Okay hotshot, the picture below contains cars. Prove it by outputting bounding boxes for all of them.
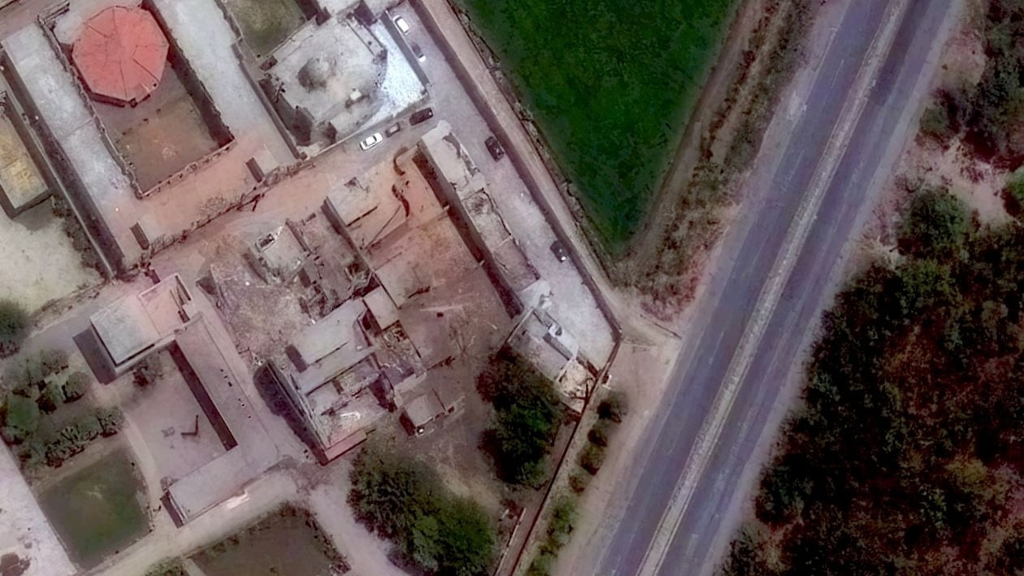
[410,40,427,62]
[359,133,383,150]
[392,13,411,36]
[384,123,402,136]
[409,107,435,125]
[485,136,504,160]
[550,240,568,262]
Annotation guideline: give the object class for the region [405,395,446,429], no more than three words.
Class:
shed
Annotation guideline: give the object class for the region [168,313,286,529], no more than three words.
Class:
building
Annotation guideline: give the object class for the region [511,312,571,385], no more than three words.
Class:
building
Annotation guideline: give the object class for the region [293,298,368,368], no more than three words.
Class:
house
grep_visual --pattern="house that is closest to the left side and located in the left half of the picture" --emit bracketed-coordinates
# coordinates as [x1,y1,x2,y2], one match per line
[0,94,51,214]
